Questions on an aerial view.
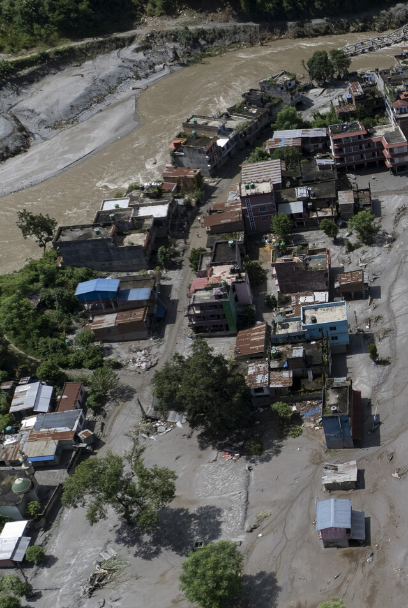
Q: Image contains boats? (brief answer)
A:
No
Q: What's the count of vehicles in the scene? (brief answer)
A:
0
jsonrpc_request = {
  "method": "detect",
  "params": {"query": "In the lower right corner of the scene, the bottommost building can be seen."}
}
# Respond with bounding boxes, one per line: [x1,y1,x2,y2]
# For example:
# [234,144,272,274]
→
[316,495,365,549]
